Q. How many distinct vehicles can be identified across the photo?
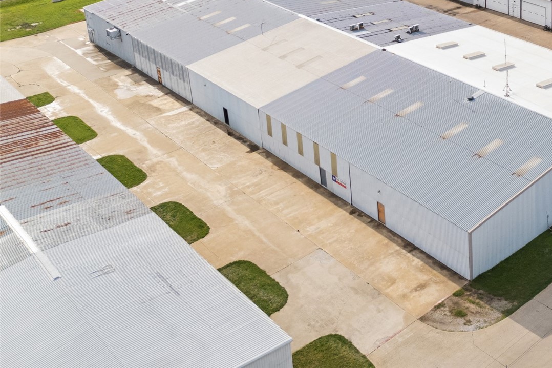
0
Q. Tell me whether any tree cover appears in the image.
No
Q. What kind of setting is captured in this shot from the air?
industrial area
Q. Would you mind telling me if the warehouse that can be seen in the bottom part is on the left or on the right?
left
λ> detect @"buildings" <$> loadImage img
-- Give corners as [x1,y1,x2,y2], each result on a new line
[80,0,552,283]
[0,81,295,368]
[458,0,552,29]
